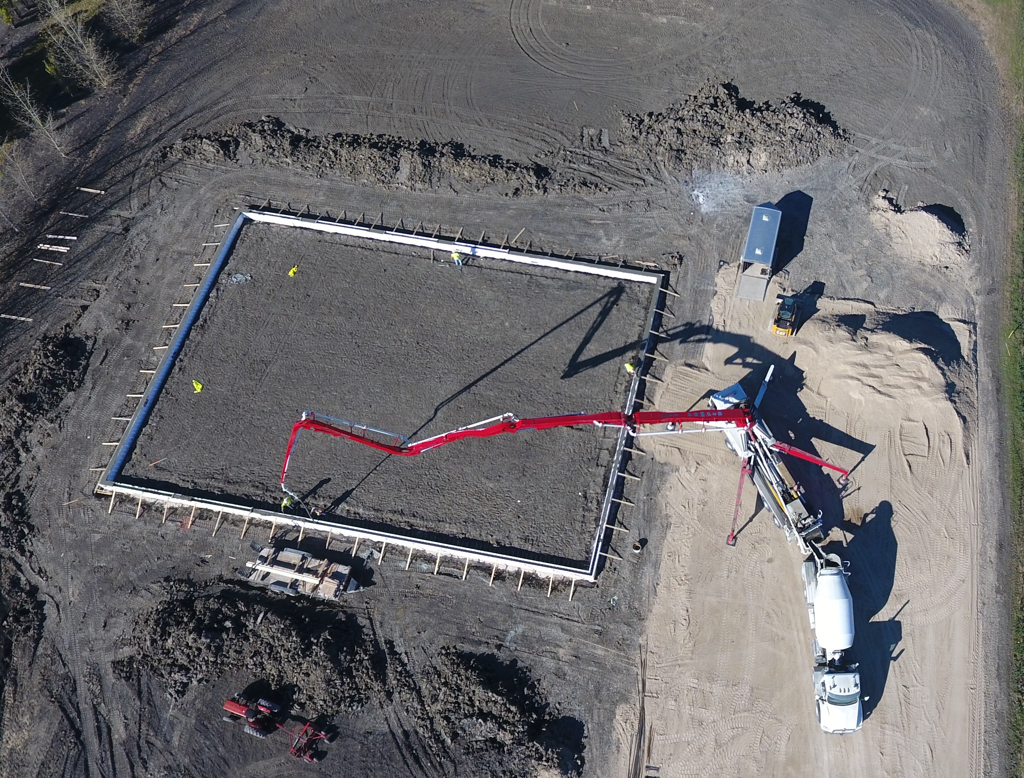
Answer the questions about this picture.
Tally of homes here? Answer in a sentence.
The picture shows no homes.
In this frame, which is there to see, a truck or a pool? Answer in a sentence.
Looking from above, you can make out a truck.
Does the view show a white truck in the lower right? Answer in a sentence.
Yes, a white truck shows up in the lower right.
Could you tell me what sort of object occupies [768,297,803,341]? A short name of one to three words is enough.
work vehicle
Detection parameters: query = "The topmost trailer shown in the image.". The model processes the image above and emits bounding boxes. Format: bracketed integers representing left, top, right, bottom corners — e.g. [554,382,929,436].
[738,202,782,302]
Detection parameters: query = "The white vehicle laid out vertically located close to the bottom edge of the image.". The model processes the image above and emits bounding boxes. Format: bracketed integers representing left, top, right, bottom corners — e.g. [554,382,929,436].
[801,540,868,741]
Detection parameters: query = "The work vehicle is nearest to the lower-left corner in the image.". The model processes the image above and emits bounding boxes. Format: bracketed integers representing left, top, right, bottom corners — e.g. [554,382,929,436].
[215,688,286,745]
